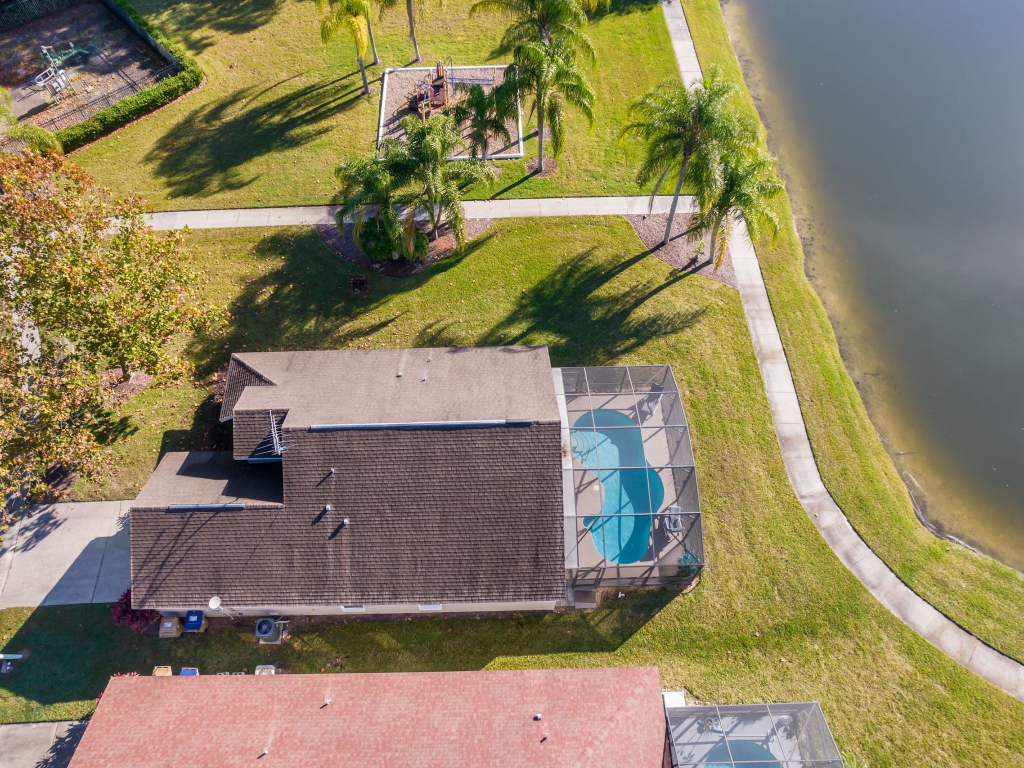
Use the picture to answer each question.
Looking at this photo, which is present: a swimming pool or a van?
swimming pool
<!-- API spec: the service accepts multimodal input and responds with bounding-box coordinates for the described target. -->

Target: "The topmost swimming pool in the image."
[571,408,665,565]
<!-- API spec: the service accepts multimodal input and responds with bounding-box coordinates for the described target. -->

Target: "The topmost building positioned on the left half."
[131,346,565,617]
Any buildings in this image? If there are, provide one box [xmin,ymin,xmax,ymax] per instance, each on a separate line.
[58,666,679,768]
[131,346,565,617]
